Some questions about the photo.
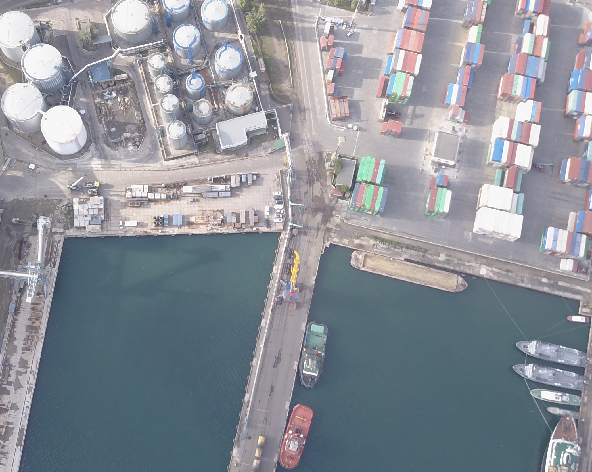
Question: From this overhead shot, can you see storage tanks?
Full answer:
Yes, a storage tank is visible in the scene.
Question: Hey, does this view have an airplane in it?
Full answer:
No, there's no airplane here.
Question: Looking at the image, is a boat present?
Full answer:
Yes, the picture does show a boat.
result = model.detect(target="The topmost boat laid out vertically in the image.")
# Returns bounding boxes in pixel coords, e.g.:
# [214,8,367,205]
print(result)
[298,320,329,390]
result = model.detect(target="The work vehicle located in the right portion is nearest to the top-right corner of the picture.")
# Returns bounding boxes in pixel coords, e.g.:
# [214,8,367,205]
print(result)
[530,151,559,173]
